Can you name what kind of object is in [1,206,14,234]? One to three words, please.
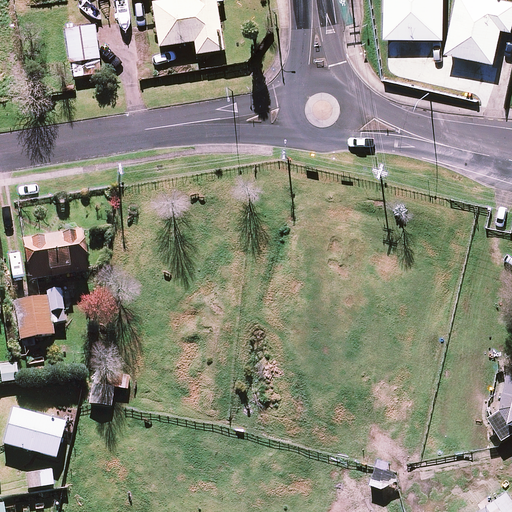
vehicle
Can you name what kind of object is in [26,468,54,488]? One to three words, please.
shed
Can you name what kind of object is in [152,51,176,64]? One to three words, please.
vehicle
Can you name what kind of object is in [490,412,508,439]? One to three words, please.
solar array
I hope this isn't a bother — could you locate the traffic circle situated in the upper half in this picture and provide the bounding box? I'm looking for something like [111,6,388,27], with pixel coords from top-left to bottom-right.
[304,92,340,128]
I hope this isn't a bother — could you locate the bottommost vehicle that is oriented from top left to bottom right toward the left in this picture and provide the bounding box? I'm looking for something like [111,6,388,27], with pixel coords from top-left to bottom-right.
[100,44,123,71]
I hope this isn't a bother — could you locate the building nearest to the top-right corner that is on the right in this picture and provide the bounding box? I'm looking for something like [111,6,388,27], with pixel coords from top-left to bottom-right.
[444,0,512,65]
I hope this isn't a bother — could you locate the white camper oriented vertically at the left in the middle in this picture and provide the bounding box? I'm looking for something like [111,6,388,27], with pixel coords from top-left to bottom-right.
[8,251,23,281]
